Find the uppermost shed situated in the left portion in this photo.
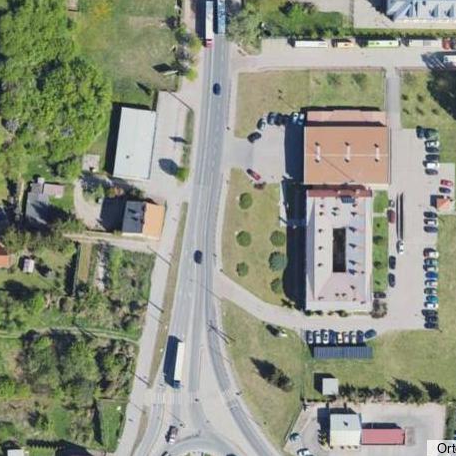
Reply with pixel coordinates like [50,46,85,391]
[113,106,156,182]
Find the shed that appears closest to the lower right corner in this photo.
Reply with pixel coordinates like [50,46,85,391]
[361,429,404,444]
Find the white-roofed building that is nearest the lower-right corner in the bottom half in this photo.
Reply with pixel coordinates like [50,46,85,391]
[330,413,361,445]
